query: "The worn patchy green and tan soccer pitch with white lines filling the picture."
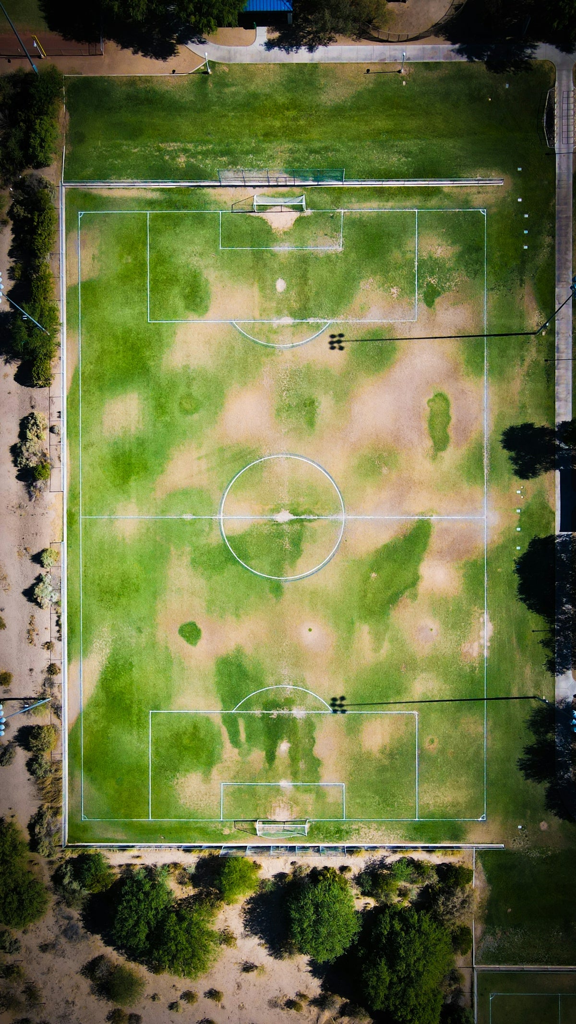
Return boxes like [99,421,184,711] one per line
[65,185,502,844]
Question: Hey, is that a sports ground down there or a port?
sports ground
